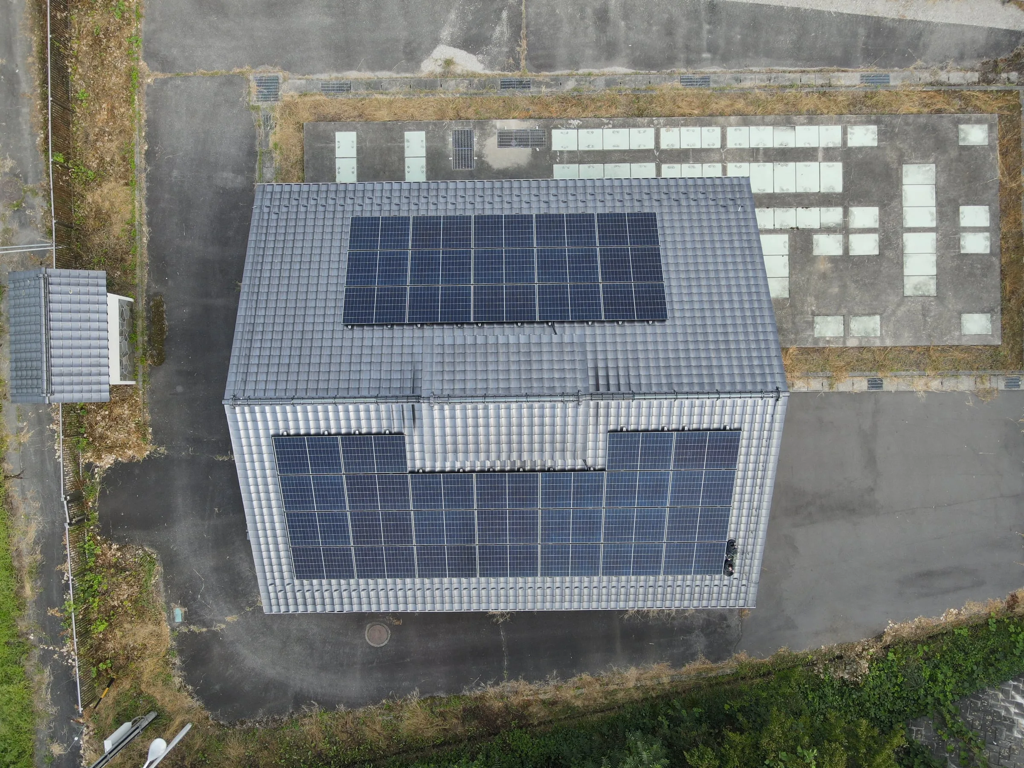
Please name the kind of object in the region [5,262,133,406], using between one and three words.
shed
